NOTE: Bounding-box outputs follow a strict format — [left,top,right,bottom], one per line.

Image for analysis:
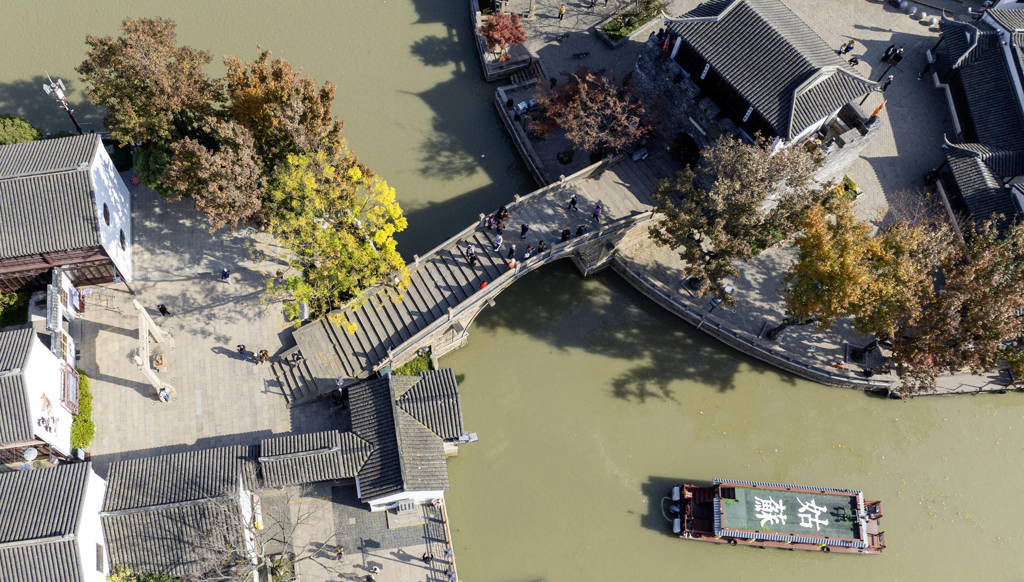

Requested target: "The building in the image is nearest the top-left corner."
[0,133,127,293]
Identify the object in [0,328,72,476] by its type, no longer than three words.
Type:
house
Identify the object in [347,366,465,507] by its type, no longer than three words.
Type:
building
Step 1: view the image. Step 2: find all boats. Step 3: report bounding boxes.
[658,475,885,563]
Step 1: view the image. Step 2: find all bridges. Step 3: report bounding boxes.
[265,154,682,416]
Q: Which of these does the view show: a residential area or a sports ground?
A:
residential area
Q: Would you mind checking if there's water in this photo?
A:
Yes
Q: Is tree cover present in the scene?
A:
Yes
